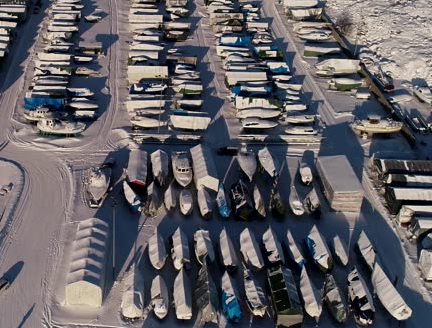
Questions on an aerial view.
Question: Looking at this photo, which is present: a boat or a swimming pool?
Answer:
boat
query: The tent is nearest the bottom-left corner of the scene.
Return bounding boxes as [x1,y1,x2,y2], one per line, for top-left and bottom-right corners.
[66,213,109,308]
